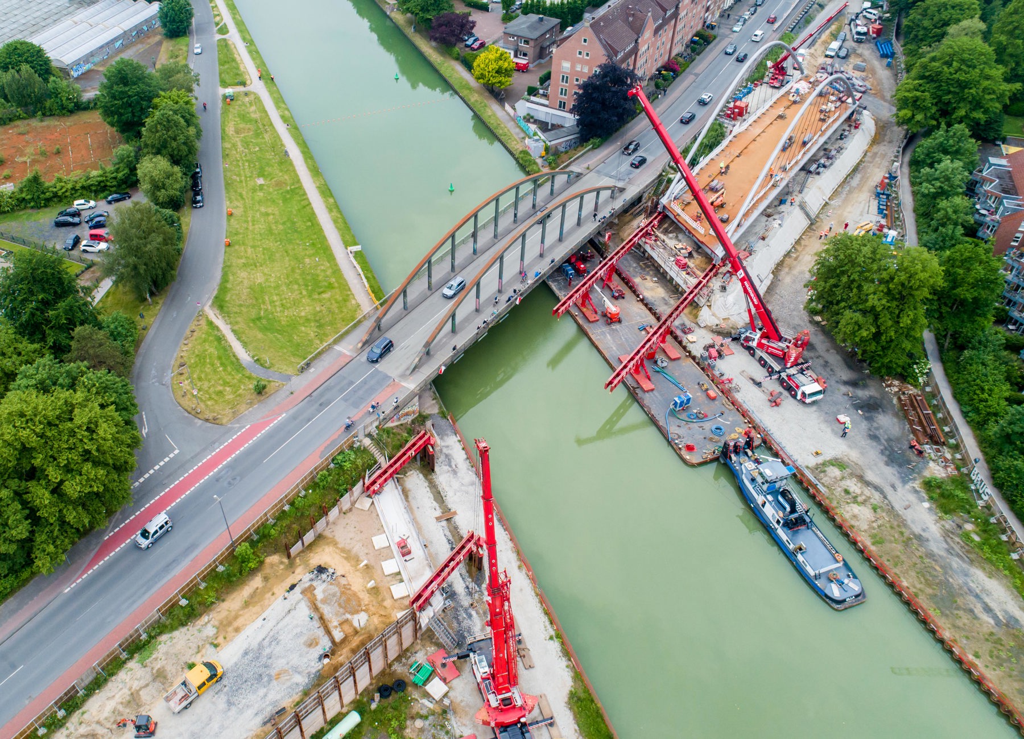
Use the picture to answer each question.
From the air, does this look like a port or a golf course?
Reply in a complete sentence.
The picture captures a port.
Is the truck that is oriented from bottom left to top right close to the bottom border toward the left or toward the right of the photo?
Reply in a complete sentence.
The truck that is oriented from bottom left to top right close to the bottom border is on the left side of the image.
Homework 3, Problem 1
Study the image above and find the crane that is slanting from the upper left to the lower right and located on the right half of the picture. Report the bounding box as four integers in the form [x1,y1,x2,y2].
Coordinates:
[606,83,826,401]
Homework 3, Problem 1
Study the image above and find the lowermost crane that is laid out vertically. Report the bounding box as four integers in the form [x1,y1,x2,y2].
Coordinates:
[429,430,579,739]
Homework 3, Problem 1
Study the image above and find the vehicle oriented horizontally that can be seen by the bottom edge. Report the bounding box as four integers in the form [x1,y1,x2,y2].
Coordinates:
[105,715,154,739]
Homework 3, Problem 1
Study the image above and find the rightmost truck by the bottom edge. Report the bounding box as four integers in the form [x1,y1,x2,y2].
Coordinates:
[155,659,226,719]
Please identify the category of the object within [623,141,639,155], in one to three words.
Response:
car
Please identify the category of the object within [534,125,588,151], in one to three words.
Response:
building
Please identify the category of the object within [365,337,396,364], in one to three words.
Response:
car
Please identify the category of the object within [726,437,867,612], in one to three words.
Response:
boat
